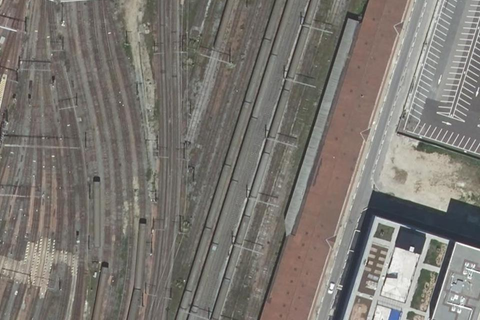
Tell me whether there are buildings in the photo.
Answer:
Yes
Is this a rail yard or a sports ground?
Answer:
rail yard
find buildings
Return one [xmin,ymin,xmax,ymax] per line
[336,215,452,320]
[258,0,409,320]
